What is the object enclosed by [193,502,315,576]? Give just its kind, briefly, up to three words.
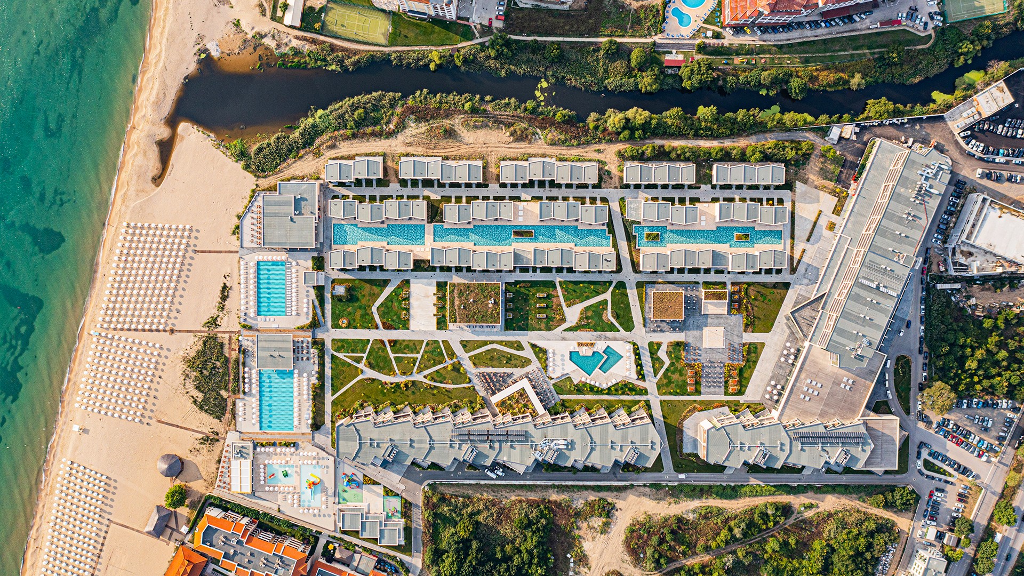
building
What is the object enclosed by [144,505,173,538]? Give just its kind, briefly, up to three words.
shed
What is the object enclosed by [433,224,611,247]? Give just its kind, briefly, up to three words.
swimming pool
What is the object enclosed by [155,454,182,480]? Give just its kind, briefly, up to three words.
gazebo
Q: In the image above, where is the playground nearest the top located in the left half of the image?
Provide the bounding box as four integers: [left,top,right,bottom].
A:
[339,460,363,503]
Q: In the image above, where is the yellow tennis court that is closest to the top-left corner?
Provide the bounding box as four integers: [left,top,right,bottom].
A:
[319,0,392,45]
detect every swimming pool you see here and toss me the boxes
[258,369,294,431]
[682,0,707,9]
[266,464,295,485]
[433,224,611,247]
[599,345,624,374]
[633,225,783,248]
[332,223,425,246]
[670,7,692,28]
[569,351,605,376]
[300,464,321,508]
[256,261,286,316]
